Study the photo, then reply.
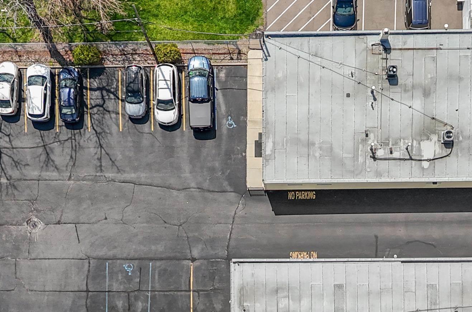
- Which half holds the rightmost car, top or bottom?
top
